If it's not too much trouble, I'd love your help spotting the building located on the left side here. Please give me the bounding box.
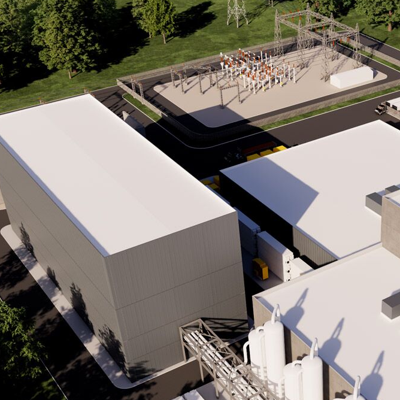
[0,94,248,382]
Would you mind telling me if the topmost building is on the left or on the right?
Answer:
right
